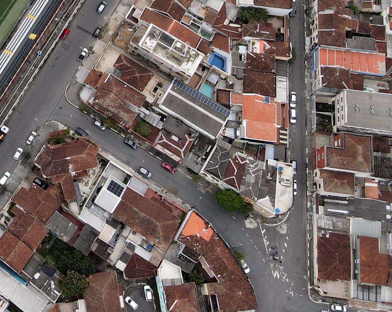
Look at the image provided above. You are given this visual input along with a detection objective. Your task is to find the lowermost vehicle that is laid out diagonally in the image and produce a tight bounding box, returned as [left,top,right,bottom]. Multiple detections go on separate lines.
[124,296,138,312]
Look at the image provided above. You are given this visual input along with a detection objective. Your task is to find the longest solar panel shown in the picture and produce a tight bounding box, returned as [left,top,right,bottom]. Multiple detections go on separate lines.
[174,79,229,118]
